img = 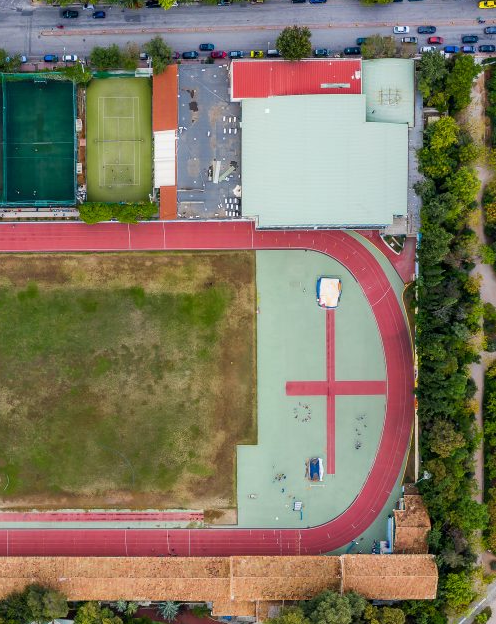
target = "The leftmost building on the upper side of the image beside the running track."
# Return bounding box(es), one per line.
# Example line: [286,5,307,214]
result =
[153,64,177,224]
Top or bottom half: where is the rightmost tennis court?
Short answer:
top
